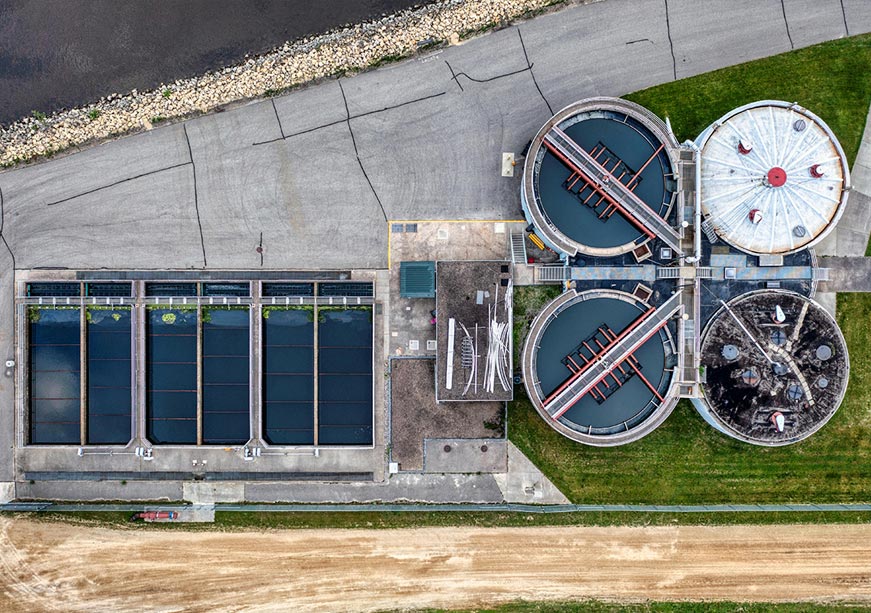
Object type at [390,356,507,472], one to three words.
building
